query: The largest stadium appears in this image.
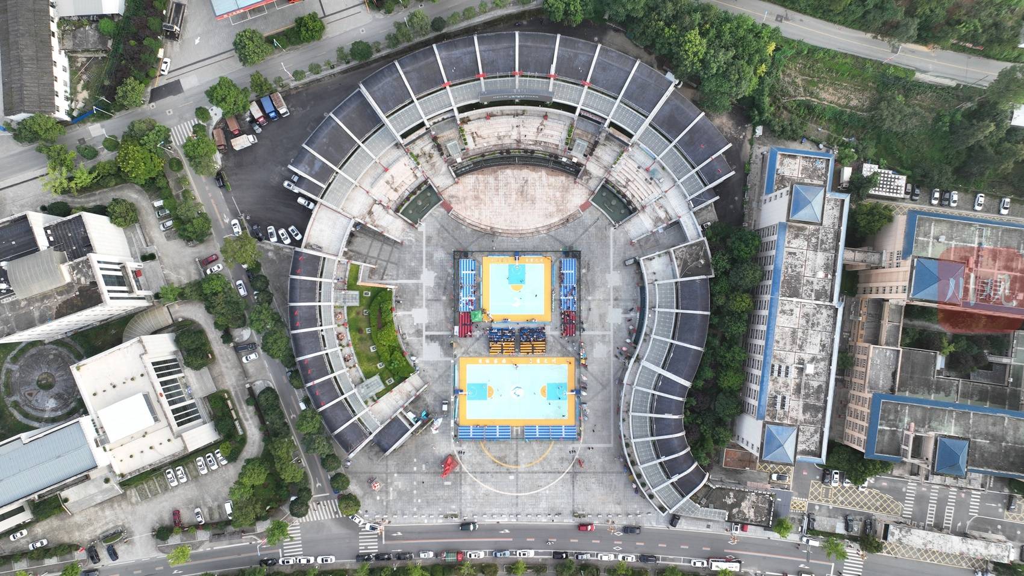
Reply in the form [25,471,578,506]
[287,32,746,521]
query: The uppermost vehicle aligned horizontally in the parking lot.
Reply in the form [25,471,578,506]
[229,135,259,150]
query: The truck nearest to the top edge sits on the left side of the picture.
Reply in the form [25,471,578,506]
[163,3,184,43]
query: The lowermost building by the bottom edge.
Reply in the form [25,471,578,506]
[876,518,1015,565]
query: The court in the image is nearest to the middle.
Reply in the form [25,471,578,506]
[482,256,551,323]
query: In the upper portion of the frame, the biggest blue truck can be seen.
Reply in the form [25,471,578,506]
[258,93,279,122]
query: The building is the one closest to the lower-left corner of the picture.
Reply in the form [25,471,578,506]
[0,415,126,533]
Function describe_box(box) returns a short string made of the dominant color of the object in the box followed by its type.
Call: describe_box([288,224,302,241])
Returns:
white car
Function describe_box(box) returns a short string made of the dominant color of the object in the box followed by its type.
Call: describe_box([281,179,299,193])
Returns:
white car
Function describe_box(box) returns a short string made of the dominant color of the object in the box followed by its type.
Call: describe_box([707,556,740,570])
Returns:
white vehicle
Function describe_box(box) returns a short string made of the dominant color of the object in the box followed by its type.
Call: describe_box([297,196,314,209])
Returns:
white vehicle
